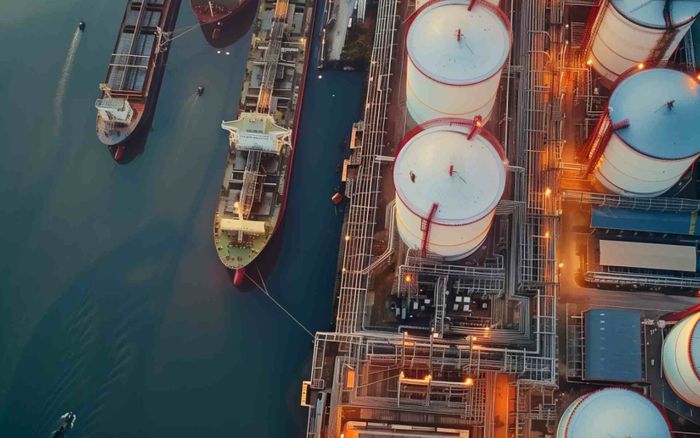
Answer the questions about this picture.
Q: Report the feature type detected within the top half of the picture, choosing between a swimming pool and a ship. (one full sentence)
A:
There is a ship within the top half of the picture.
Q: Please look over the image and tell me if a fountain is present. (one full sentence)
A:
No, the photo shows no fountain.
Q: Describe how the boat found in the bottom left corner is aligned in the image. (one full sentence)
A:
The boat found in the bottom left corner runs diagonally in the image.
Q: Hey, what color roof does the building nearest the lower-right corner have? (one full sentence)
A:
The roof of the building nearest the lower-right corner is blue.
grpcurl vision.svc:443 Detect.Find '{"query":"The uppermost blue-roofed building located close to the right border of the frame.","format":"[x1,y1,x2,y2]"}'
[588,206,700,245]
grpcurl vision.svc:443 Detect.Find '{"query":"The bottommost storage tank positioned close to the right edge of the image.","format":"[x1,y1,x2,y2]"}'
[550,385,675,438]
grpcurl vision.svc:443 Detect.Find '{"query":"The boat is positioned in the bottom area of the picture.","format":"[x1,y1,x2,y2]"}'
[53,411,73,433]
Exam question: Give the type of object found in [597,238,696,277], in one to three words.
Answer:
building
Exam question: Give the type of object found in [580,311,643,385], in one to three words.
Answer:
building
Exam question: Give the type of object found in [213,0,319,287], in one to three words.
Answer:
ship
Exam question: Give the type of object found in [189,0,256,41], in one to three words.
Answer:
ship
